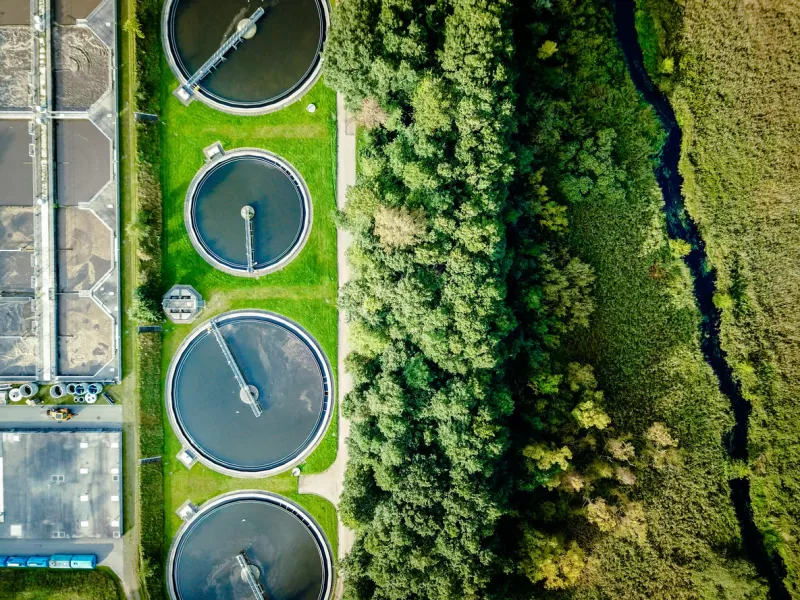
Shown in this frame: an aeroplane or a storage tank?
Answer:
storage tank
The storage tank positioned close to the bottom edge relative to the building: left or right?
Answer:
to the right of it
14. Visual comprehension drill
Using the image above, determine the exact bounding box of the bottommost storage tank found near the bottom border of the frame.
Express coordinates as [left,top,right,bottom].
[166,490,334,600]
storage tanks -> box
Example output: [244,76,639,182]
[166,490,334,600]
[162,0,330,115]
[183,142,312,276]
[165,309,334,479]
